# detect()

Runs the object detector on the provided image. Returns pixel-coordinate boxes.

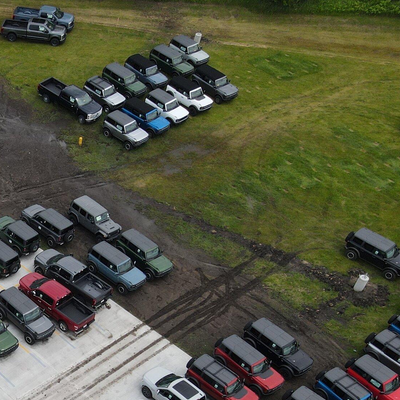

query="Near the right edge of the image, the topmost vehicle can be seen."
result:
[342,228,400,281]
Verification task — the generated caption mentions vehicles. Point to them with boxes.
[167,36,209,71]
[120,99,171,140]
[114,231,173,284]
[188,66,238,106]
[0,286,55,344]
[343,354,400,400]
[137,364,205,400]
[18,206,75,248]
[342,228,400,281]
[65,196,122,245]
[164,77,213,118]
[101,112,148,153]
[38,79,104,126]
[144,89,188,128]
[148,46,194,81]
[101,64,146,103]
[13,7,77,35]
[84,241,145,295]
[2,19,67,49]
[185,353,259,400]
[16,271,95,335]
[0,217,41,259]
[0,318,19,358]
[82,77,126,115]
[123,56,167,95]
[31,245,113,311]
[0,239,22,279]
[241,318,313,379]
[311,366,378,400]
[213,334,283,397]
